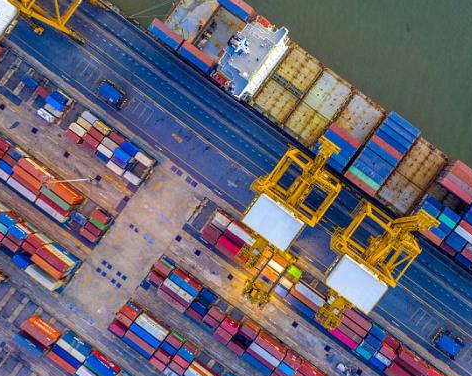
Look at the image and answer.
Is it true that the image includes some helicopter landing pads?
No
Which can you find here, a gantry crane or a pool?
gantry crane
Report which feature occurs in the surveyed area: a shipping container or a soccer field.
shipping container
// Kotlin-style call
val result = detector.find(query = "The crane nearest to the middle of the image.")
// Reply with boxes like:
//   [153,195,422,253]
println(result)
[223,134,346,279]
